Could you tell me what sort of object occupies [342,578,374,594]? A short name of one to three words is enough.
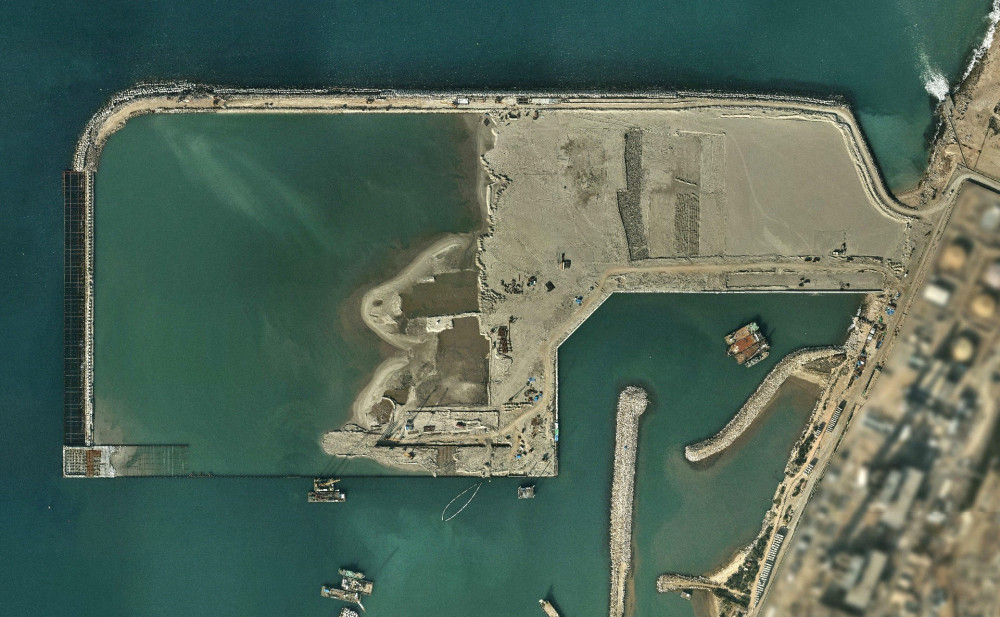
ship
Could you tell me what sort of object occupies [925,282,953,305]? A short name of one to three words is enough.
building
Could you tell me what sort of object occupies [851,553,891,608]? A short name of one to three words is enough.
building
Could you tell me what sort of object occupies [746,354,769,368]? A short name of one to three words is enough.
ship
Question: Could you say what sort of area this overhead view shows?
port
